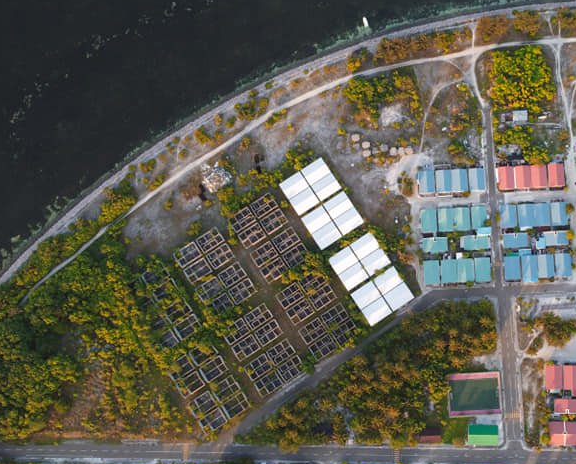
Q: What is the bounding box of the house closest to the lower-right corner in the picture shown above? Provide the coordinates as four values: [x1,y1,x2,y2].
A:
[549,421,576,446]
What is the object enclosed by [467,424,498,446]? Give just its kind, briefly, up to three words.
building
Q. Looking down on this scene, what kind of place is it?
residential area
